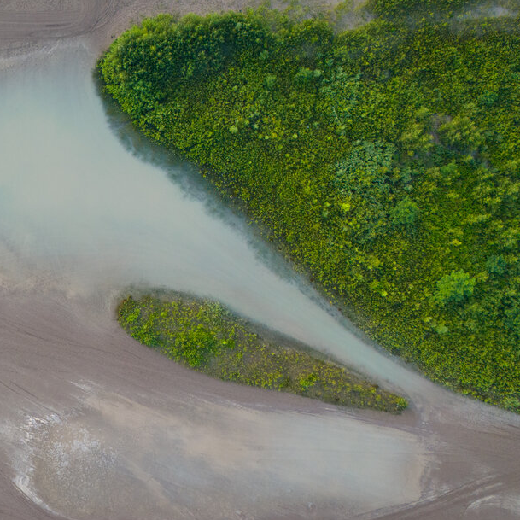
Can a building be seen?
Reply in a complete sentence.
No, no building is visible in the view.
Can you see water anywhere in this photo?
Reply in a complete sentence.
Yes, there is water in the image.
